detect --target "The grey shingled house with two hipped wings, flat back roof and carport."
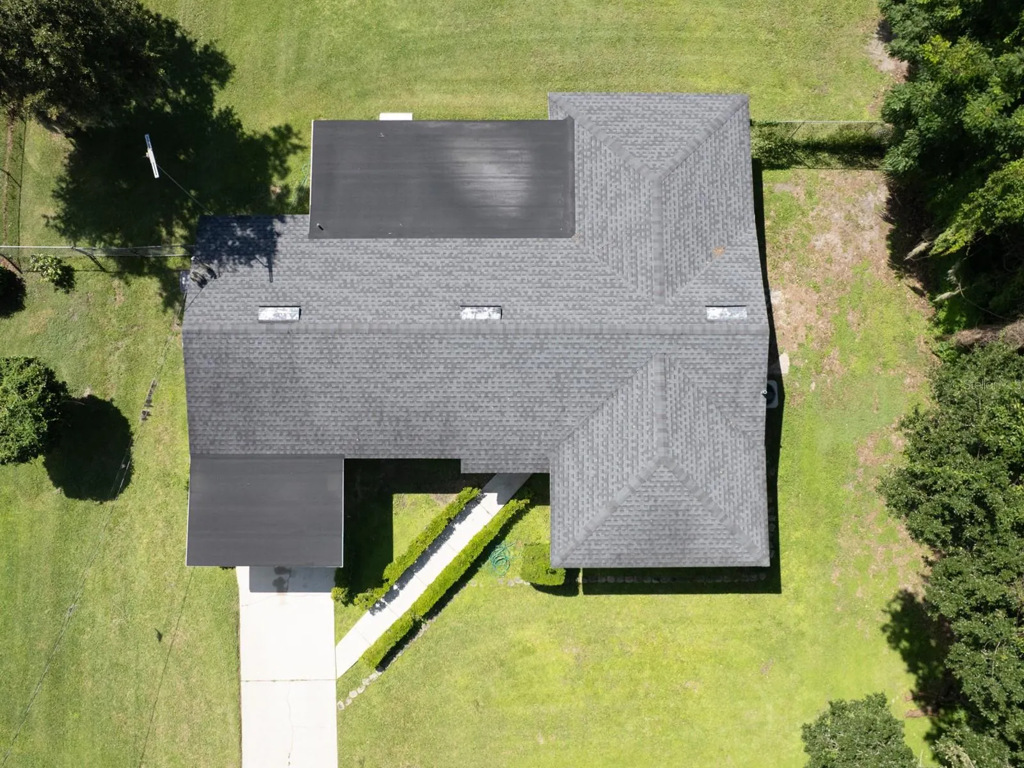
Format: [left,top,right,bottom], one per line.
[182,92,770,569]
